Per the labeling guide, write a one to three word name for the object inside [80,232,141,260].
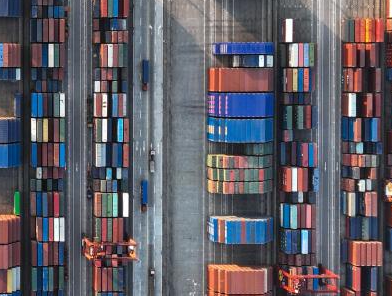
container crane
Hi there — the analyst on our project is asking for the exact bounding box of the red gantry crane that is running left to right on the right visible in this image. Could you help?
[271,263,338,293]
